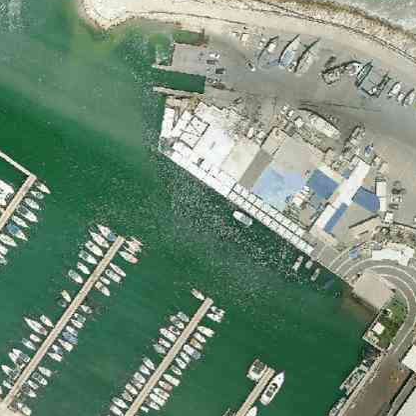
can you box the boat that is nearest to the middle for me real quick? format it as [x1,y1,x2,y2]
[234,212,255,228]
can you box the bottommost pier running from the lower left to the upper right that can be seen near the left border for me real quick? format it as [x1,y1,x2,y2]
[3,236,124,405]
